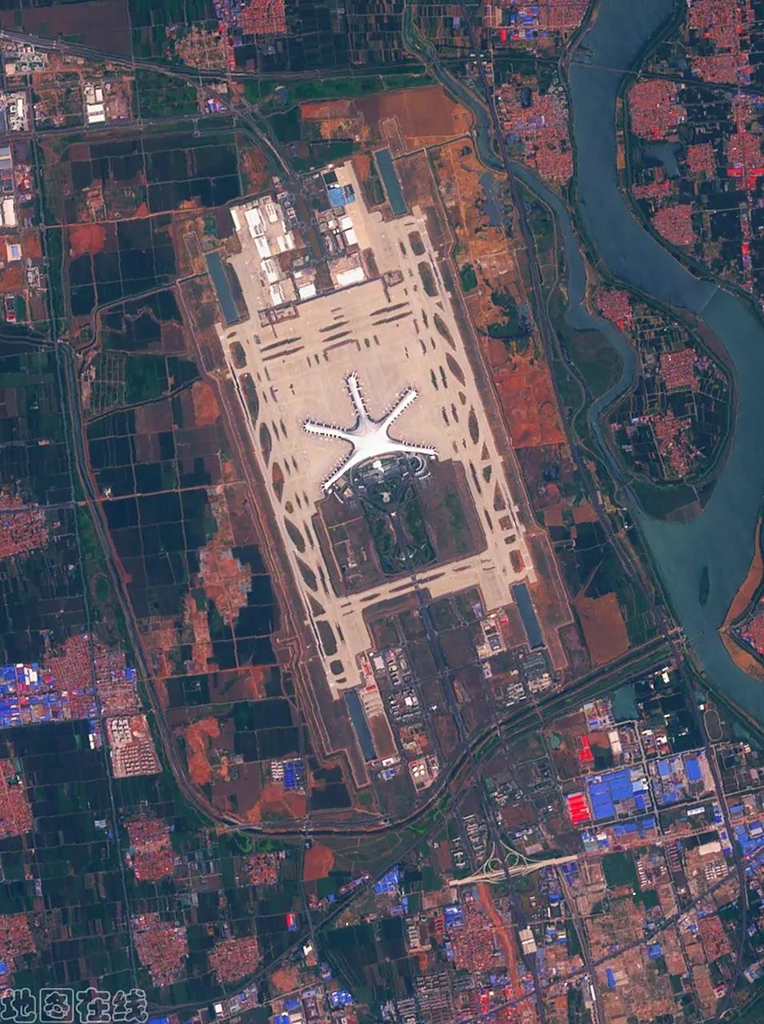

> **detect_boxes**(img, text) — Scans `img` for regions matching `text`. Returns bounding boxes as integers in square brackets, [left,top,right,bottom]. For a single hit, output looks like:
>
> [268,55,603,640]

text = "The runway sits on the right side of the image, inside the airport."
[420,210,532,560]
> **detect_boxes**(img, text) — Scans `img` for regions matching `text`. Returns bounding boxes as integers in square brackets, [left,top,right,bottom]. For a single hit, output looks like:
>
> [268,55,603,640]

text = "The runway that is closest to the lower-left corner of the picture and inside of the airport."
[225,357,334,688]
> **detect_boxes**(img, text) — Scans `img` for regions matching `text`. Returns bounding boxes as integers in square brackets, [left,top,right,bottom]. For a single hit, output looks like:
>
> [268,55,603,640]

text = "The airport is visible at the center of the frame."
[178,116,574,789]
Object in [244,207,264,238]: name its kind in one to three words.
hangar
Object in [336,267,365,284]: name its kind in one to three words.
shed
